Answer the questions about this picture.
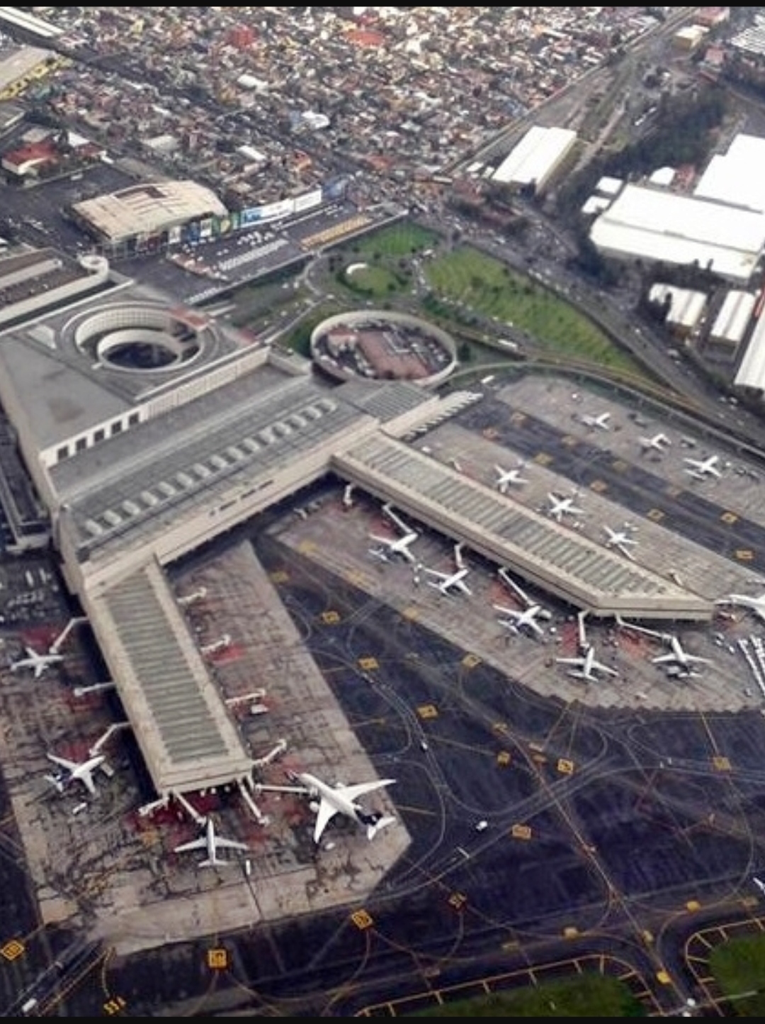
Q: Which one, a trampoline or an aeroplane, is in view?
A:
aeroplane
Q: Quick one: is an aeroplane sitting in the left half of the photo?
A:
Yes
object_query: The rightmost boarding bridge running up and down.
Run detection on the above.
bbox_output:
[577,608,590,652]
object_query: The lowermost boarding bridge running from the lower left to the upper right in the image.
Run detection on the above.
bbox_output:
[137,787,172,821]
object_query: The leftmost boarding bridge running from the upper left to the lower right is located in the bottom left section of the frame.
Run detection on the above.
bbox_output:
[172,786,209,827]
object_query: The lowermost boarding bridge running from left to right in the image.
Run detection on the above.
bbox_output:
[244,771,314,801]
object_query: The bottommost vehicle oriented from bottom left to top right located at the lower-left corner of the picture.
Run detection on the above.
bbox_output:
[18,991,39,1013]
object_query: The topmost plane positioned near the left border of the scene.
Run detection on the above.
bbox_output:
[9,653,64,679]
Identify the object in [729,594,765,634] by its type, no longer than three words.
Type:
airplane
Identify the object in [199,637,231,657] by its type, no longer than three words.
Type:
jet bridge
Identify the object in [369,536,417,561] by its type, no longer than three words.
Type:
airplane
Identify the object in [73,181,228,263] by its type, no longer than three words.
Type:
building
